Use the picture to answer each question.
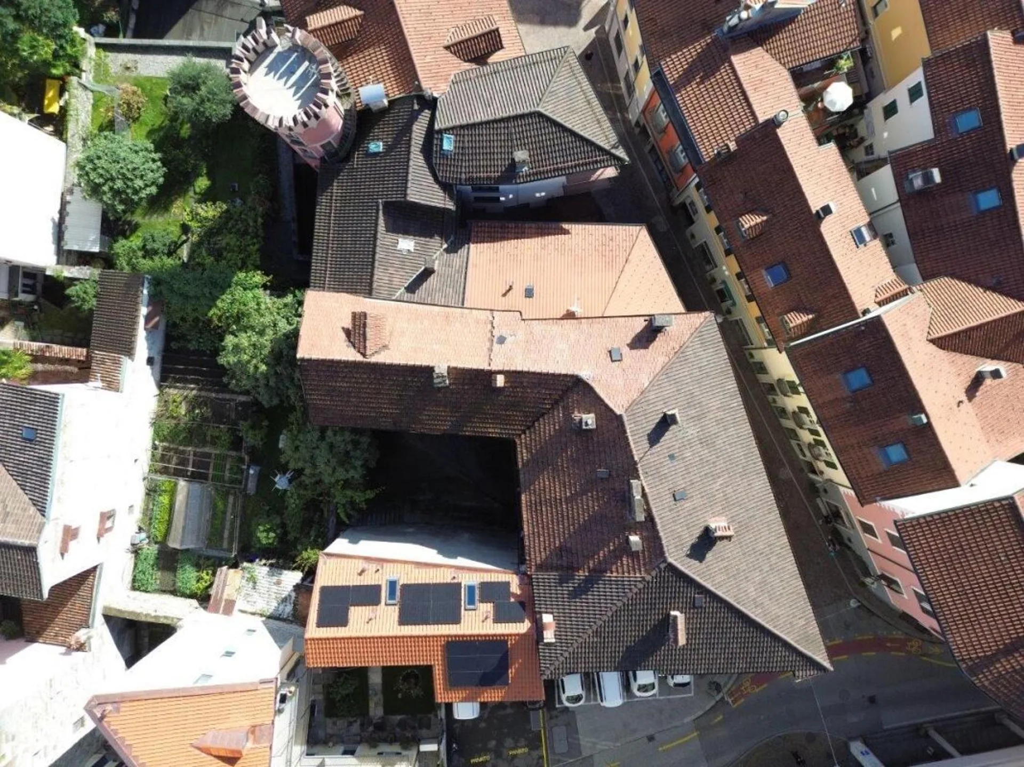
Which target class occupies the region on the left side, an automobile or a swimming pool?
automobile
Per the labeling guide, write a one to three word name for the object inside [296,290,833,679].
house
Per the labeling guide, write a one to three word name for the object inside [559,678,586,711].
car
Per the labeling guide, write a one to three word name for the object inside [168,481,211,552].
greenhouse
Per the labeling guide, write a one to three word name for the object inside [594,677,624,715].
van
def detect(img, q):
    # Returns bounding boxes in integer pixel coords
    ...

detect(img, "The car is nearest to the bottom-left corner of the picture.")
[76,740,120,767]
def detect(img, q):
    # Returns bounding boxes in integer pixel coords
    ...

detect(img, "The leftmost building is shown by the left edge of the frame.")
[0,109,64,265]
